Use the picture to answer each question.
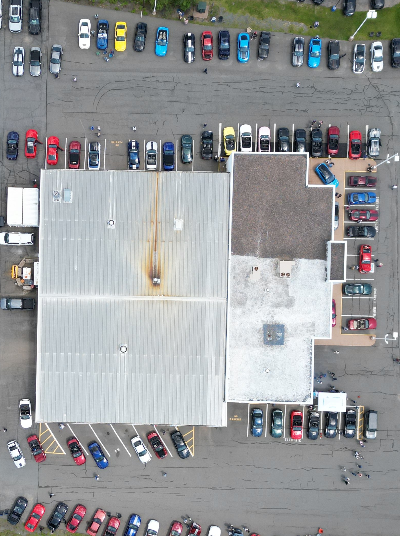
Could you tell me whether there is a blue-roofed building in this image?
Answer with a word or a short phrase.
No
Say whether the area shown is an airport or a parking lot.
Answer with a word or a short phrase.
parking lot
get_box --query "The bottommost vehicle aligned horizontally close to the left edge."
[0,297,35,312]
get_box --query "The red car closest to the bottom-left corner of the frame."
[24,503,46,533]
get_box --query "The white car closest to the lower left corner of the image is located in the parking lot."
[6,439,26,469]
